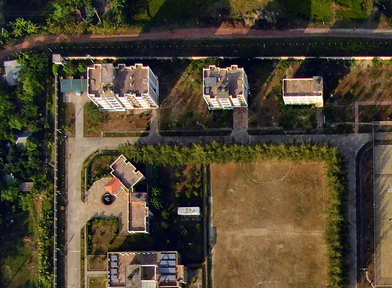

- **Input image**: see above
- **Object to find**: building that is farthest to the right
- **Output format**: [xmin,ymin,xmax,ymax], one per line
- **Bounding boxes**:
[282,77,324,104]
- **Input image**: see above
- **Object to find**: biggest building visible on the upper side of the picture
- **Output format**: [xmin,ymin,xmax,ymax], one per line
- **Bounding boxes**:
[88,62,158,109]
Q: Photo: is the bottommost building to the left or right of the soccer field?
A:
left of it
